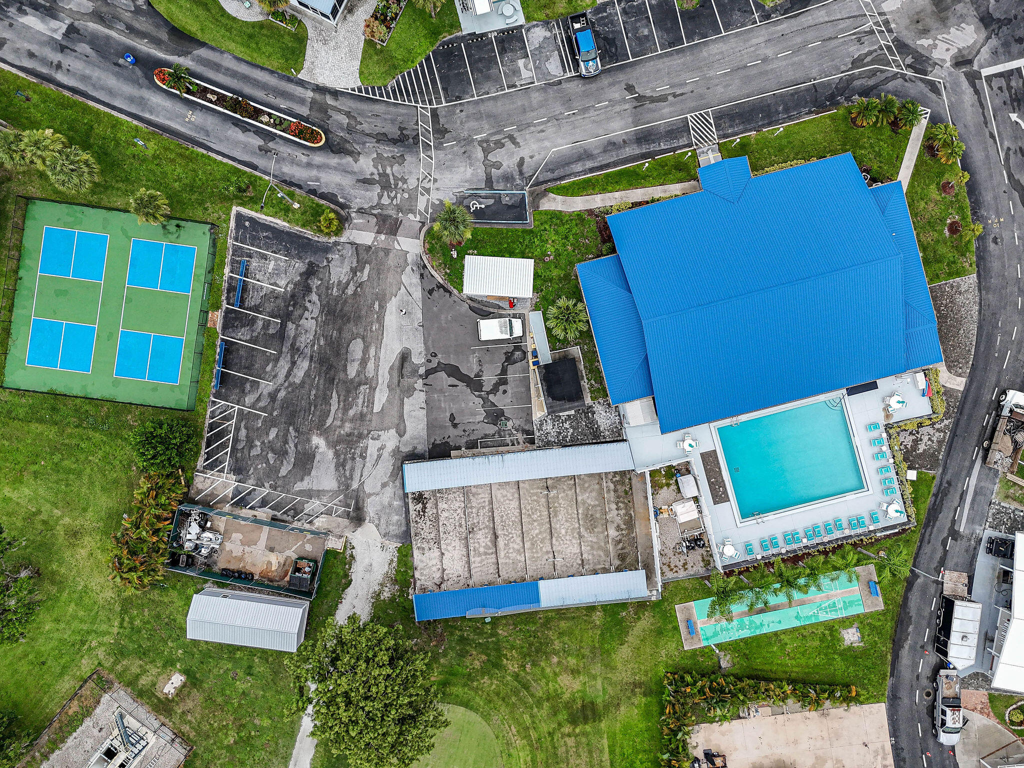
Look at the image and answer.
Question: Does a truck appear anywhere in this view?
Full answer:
Yes, the photo shows a truck.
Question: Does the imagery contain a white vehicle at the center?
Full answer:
Yes, looking at the center, one can make out a white vehicle.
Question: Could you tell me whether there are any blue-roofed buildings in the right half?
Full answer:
Yes, a blue-roofed building can be seen in the right half.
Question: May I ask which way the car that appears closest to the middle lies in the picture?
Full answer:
From this overhead view, the car that appears closest to the middle appears to run from side to side.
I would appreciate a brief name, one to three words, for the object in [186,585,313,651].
shed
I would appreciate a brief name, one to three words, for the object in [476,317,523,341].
car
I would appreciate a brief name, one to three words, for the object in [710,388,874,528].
swimming pool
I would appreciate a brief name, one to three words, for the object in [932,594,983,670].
trailer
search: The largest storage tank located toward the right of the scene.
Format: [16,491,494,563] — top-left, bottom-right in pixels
[669,497,704,542]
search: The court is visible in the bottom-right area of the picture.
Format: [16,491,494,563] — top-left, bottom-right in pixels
[675,565,885,650]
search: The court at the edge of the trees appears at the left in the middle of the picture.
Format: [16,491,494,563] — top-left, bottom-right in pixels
[3,199,210,409]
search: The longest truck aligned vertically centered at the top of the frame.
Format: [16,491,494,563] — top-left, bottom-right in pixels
[567,10,601,80]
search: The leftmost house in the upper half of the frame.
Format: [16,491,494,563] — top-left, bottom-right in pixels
[292,0,350,35]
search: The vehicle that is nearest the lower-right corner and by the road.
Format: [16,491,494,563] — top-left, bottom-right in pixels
[932,667,970,744]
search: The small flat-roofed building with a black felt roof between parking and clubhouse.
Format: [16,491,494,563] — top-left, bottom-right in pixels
[538,358,586,414]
